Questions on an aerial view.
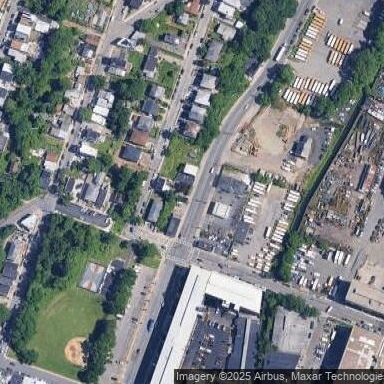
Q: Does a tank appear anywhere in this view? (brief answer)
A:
No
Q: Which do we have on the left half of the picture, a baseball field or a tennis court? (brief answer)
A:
baseball field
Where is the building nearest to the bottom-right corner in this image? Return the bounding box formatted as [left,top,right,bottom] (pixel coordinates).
[335,326,384,384]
